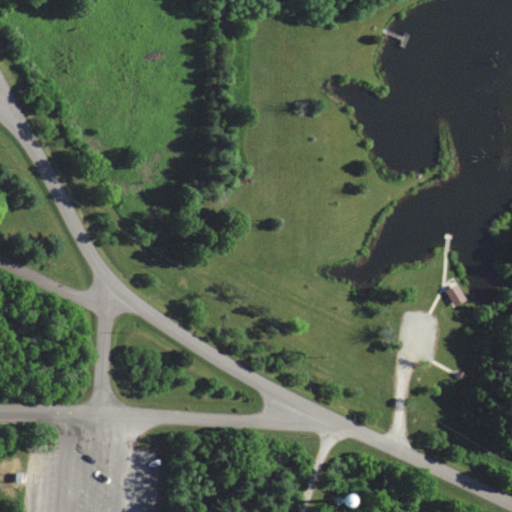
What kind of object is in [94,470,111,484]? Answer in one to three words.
vehicle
